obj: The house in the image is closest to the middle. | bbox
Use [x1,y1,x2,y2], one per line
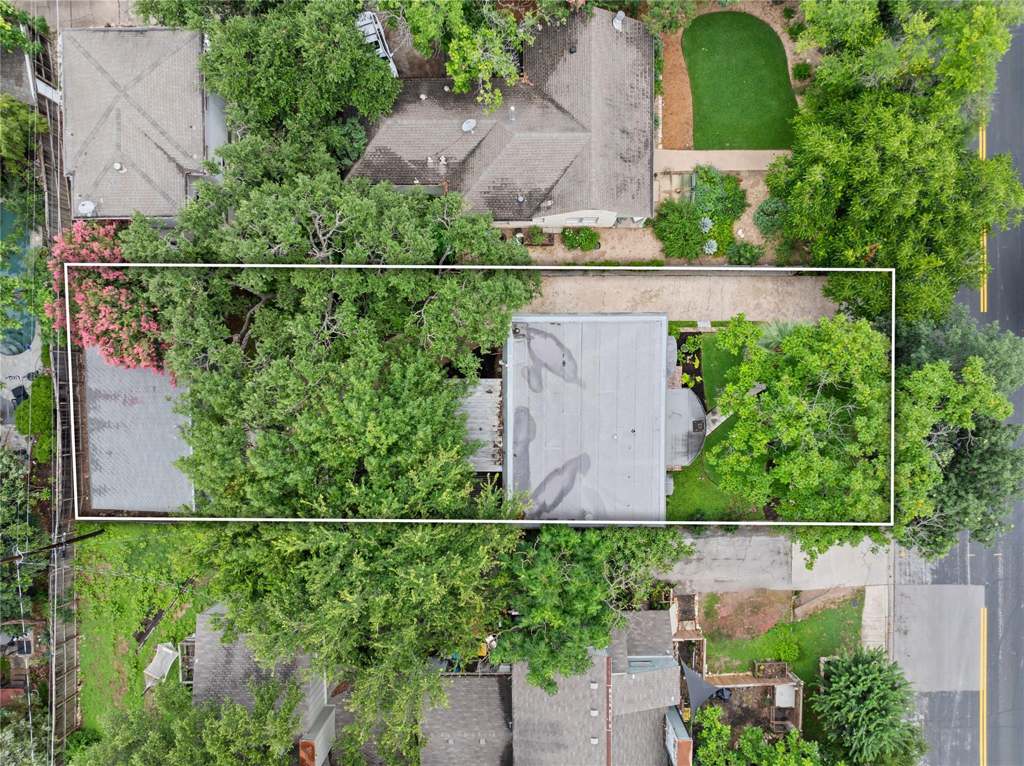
[499,314,707,526]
